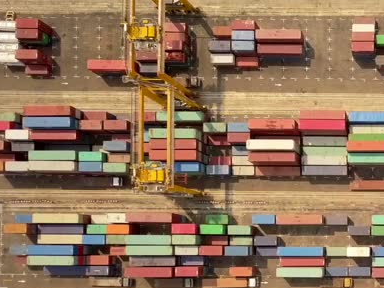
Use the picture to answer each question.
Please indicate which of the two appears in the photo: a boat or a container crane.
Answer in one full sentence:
It is a container crane that can be seen here.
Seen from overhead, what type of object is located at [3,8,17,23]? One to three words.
vehicle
